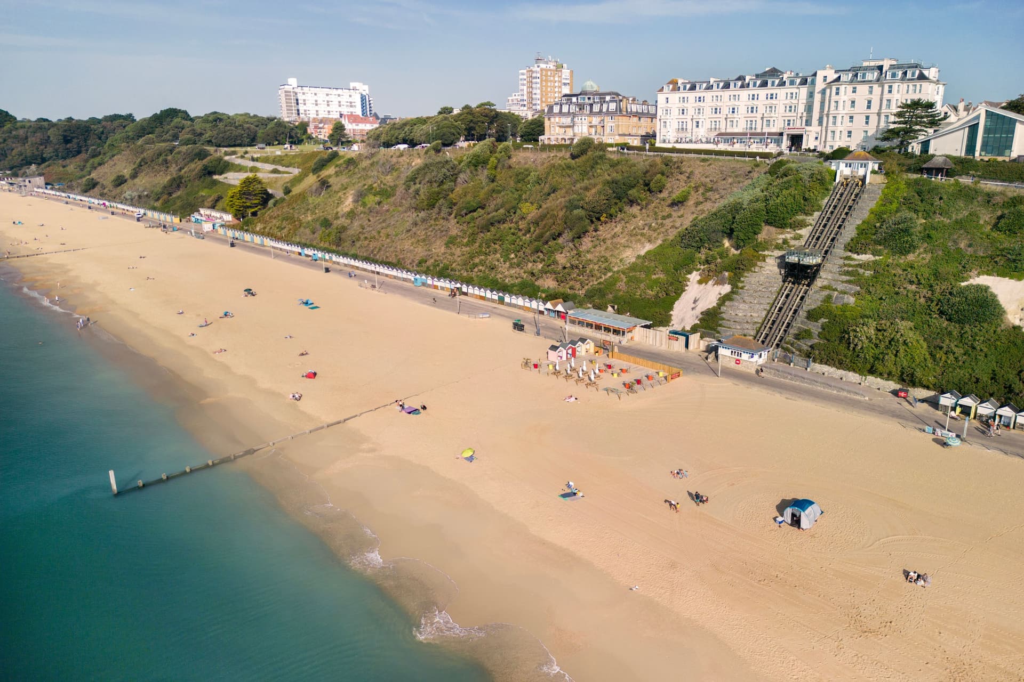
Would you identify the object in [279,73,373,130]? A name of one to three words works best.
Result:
building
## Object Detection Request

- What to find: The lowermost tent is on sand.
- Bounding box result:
[784,500,831,531]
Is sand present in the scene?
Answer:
Yes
